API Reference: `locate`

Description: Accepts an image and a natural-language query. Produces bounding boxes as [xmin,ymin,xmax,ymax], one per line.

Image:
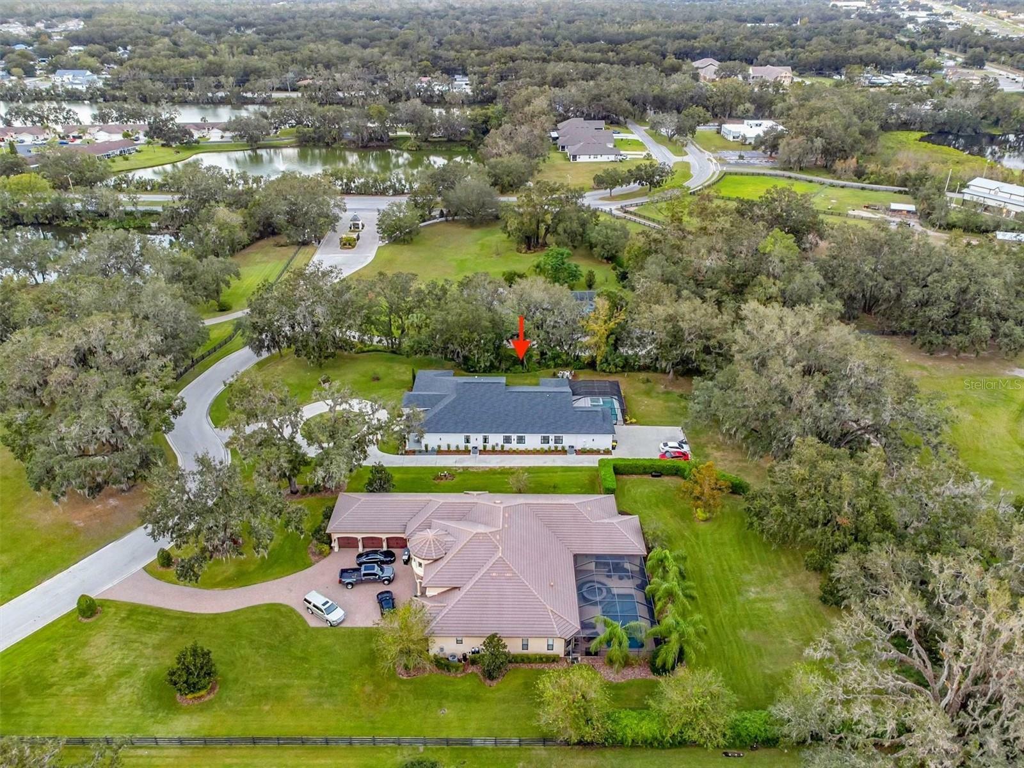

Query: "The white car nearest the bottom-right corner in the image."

[659,438,689,453]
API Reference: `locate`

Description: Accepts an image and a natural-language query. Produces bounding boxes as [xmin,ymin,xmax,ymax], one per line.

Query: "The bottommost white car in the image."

[303,590,346,626]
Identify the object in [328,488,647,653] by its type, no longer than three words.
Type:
house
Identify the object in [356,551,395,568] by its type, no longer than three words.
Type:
car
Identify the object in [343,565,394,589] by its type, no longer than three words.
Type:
truck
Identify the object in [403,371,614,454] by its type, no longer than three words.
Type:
house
